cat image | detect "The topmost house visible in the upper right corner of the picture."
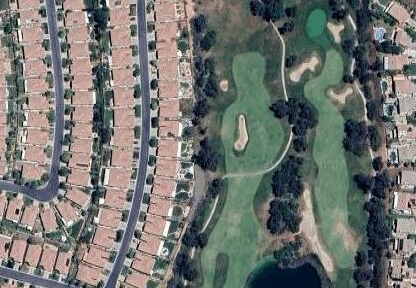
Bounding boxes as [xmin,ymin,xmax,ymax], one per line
[382,0,416,21]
